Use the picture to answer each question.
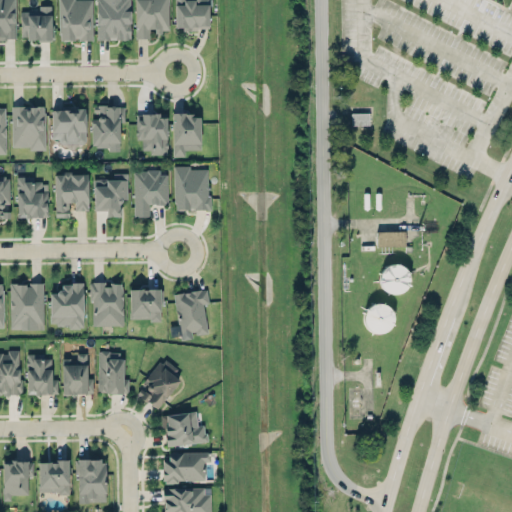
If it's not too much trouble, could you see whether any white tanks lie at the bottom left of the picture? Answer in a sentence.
No, there is no white tank at the bottom left of the picture.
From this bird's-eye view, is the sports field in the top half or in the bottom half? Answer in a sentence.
You can find the sports field in the bottom half.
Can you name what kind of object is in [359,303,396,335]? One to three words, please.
storage tank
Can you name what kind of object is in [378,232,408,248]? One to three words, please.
building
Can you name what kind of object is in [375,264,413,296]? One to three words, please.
storage tank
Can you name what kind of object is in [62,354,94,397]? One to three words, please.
house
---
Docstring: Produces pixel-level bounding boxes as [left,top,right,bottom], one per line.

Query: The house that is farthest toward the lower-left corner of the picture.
[3,462,34,502]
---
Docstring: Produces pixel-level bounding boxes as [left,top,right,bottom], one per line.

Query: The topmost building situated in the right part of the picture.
[350,110,373,128]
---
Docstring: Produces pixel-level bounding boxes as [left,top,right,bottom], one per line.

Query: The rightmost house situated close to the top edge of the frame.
[176,0,211,32]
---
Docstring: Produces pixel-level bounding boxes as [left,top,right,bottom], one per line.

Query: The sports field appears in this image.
[437,440,512,512]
